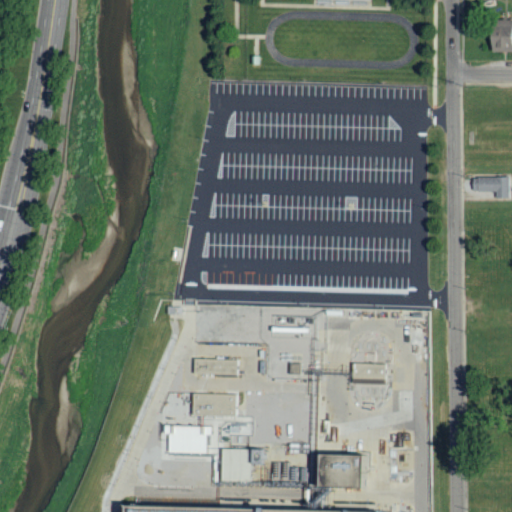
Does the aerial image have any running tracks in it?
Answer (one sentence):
Yes, a running track appears in the view.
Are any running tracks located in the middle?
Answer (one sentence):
No, I see no running track in the middle.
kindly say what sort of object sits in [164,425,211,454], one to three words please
building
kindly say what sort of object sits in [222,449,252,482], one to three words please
shed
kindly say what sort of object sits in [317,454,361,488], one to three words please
building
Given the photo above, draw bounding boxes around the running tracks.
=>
[266,11,418,70]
